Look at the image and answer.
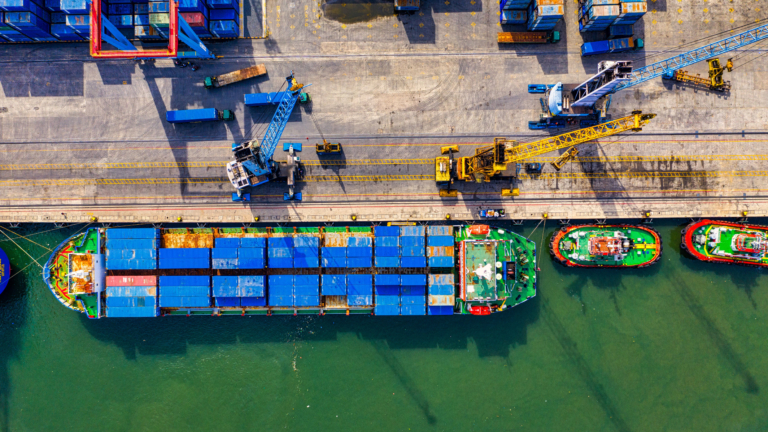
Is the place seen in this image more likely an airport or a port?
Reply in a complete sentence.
What you see here is a port.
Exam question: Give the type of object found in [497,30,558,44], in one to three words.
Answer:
vehicle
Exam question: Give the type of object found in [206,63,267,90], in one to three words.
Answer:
truck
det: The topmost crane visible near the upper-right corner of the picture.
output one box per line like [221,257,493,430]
[527,19,768,129]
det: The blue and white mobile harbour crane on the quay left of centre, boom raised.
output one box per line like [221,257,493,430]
[219,65,336,201]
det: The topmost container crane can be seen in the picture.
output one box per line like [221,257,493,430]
[92,0,227,60]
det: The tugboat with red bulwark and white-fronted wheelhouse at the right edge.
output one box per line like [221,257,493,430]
[678,218,768,271]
